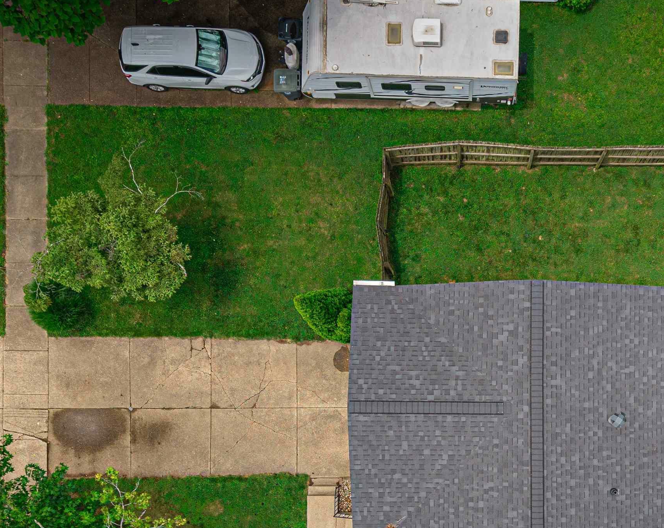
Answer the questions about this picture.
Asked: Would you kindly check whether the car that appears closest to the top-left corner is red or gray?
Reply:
gray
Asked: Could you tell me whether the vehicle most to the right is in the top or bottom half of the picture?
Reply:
top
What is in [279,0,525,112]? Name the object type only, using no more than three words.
vehicle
